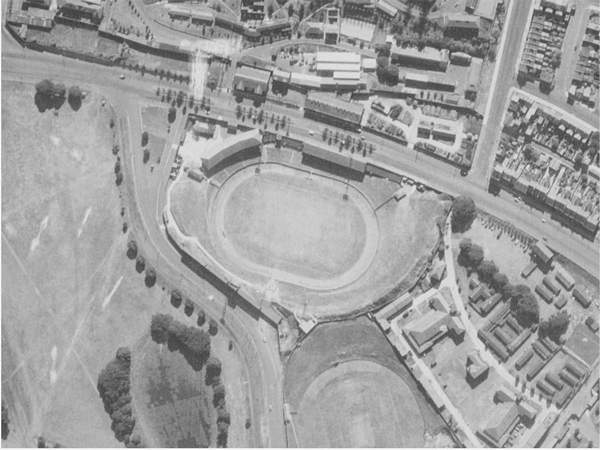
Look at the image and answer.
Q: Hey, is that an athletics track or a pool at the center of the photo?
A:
athletics track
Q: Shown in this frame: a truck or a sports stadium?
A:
sports stadium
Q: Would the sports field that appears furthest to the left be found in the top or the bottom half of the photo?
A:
bottom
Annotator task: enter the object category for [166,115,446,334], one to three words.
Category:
stadium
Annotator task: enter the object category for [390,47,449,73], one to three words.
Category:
building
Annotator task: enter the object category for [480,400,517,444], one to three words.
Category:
building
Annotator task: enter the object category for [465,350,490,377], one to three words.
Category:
house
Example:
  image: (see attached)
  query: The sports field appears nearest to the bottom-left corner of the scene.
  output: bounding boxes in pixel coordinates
[134,338,216,450]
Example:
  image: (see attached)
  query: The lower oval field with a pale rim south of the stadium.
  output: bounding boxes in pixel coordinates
[285,316,463,450]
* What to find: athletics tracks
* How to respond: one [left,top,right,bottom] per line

[209,165,379,290]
